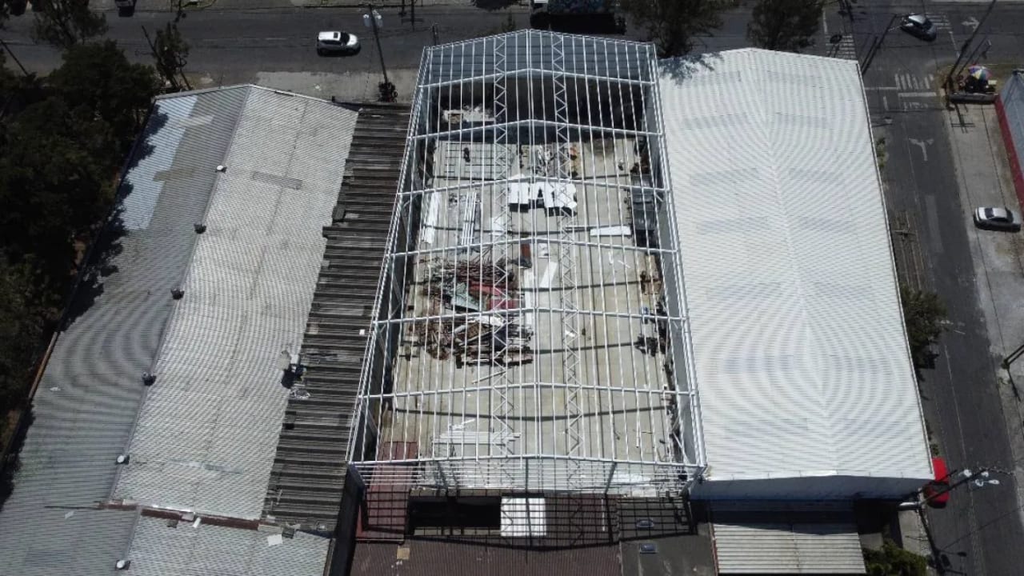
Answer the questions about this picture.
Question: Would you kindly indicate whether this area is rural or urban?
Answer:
urban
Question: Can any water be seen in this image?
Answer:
No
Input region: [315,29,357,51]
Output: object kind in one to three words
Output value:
car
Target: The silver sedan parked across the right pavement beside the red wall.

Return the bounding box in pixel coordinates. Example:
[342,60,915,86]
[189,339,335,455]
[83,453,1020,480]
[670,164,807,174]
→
[974,205,1024,228]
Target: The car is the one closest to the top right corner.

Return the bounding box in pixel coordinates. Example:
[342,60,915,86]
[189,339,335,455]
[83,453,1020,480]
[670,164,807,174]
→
[898,12,940,36]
